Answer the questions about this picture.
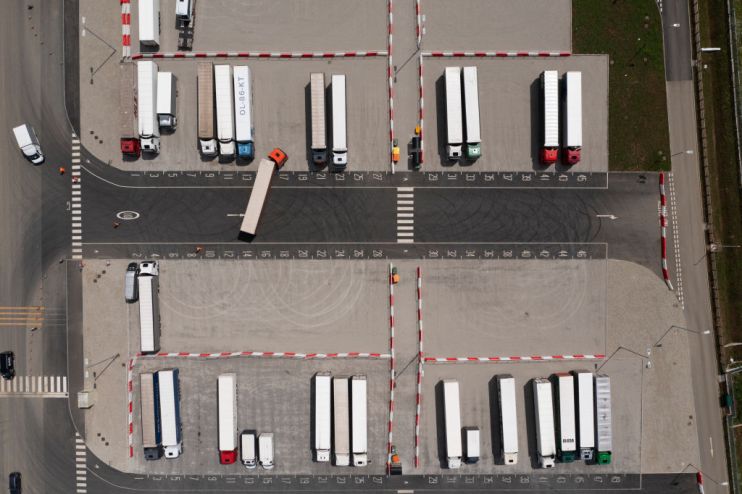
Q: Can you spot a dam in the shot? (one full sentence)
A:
No, there isn't any dam down there.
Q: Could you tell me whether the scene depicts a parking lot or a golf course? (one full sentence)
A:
The area seen from above is a parking lot.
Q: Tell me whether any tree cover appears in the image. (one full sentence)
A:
No, there is no tree cover in the image.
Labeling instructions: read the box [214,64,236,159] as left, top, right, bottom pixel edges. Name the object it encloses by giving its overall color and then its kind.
white truck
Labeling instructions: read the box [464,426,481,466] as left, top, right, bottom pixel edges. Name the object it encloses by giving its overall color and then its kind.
white vehicle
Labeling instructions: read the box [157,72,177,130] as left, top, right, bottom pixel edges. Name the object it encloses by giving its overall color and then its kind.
white vehicle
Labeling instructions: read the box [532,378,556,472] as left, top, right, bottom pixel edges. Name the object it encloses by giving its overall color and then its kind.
white truck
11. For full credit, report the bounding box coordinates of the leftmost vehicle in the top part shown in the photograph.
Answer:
[14,125,42,162]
